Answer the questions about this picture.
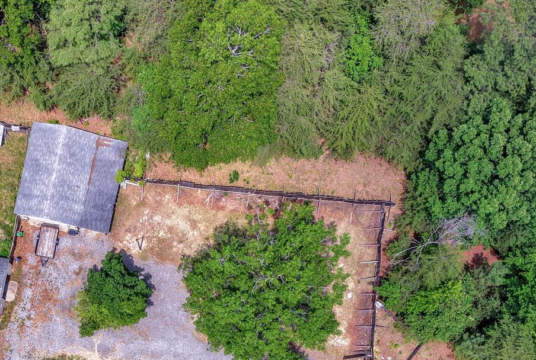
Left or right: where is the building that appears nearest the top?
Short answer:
left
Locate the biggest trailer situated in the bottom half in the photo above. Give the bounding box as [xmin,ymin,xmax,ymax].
[34,221,60,268]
